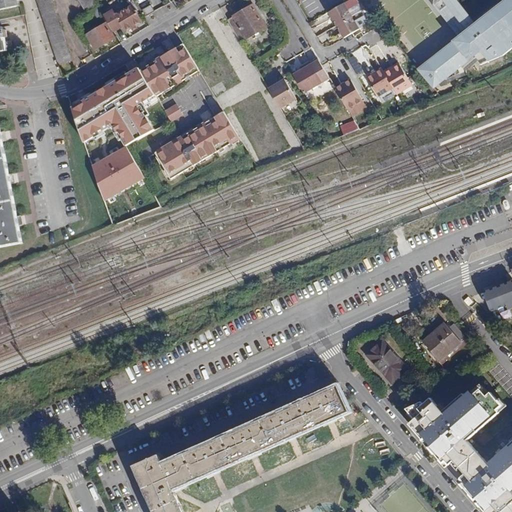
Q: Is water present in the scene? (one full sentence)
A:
No, water can't be seen anywhere here.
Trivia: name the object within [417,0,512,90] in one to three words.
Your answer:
building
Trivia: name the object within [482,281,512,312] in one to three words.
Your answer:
house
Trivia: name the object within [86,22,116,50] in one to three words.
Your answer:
house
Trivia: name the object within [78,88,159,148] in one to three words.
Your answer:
building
